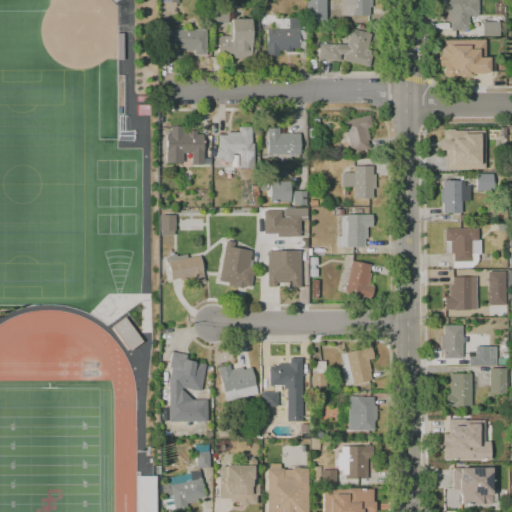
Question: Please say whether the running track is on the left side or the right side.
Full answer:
The running track is on the left side of the image.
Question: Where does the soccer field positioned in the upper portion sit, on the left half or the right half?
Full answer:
The soccer field positioned in the upper portion sits on the left side.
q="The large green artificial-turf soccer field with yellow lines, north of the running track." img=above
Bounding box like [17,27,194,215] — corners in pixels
[0,0,143,313]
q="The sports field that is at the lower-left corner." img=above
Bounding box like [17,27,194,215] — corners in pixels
[0,380,114,512]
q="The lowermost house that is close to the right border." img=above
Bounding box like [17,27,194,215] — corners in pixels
[456,468,497,508]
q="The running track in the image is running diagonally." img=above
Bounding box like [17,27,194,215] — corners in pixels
[0,310,137,512]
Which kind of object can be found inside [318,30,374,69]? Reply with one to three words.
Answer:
house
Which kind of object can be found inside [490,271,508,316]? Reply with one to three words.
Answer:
building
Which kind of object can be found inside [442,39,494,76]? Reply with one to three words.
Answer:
house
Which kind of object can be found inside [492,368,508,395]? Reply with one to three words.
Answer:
building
